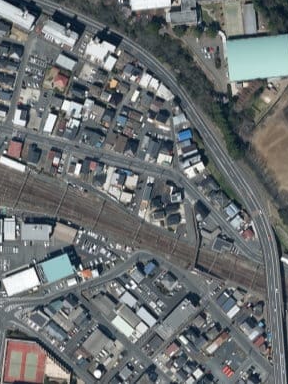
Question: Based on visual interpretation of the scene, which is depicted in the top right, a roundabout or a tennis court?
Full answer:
The feature located in the top right is a tennis court.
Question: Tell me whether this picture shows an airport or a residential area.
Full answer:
The picture captures a residential area.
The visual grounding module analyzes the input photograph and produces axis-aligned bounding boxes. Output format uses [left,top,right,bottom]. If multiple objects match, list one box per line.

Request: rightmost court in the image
[222,2,243,32]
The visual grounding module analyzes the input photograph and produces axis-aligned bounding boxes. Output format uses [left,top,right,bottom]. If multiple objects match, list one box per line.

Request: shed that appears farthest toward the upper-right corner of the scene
[242,3,256,31]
